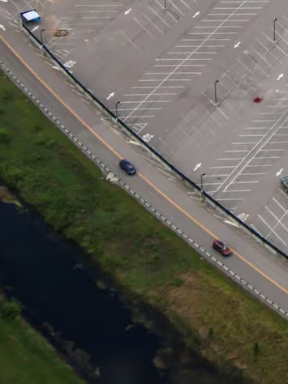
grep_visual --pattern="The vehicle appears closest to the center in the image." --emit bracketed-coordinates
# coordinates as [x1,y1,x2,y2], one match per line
[120,159,135,175]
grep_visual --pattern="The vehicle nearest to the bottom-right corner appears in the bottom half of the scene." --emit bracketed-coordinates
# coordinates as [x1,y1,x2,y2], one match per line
[214,237,230,256]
